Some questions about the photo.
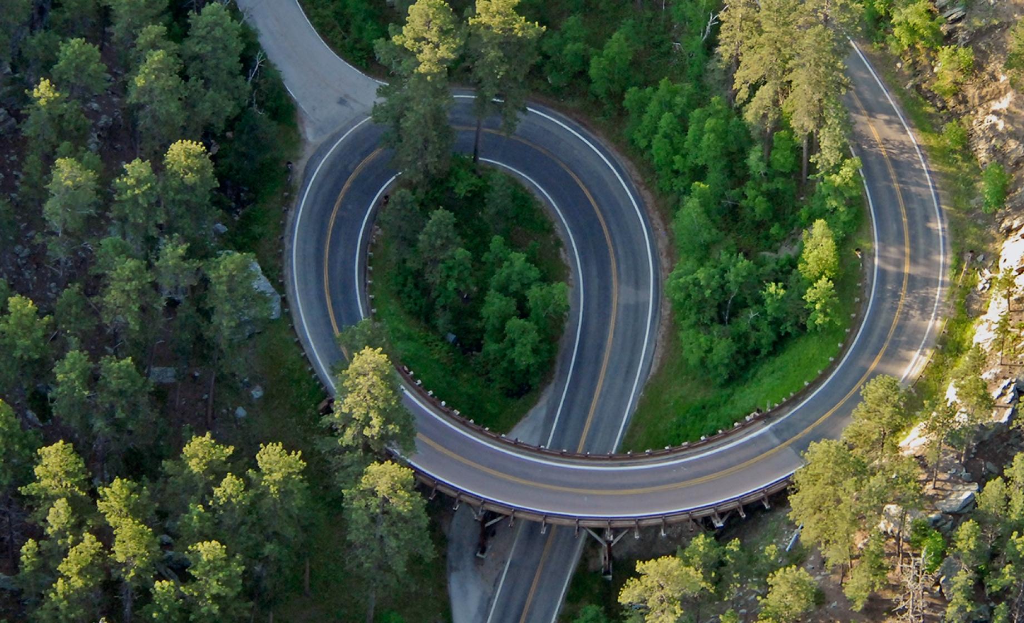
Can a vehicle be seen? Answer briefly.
No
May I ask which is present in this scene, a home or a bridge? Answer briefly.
bridge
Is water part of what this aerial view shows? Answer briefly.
No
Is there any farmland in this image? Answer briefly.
No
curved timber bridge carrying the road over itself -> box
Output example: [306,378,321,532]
[371,384,812,575]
